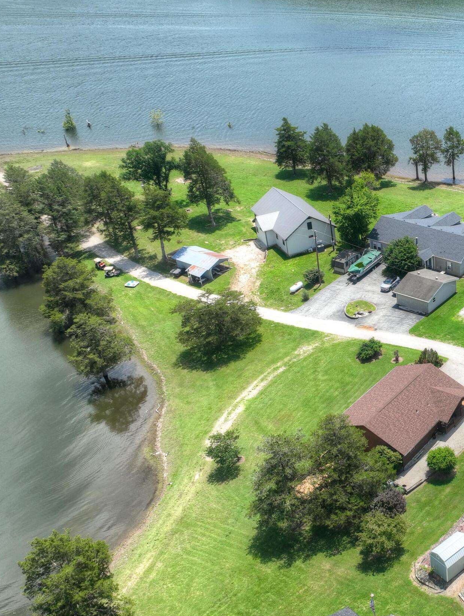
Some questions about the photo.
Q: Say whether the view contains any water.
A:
Yes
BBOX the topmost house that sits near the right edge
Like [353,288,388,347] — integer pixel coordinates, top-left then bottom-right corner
[367,204,464,276]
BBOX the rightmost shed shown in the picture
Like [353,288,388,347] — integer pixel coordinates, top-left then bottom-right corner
[430,533,464,582]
